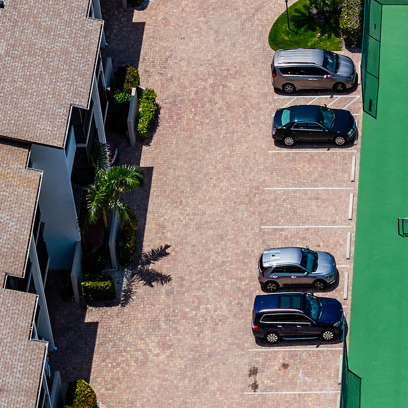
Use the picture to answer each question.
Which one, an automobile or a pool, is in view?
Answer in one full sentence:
The image shows an automobile.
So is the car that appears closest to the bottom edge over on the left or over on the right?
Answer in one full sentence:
The car that appears closest to the bottom edge is on the right side of the image.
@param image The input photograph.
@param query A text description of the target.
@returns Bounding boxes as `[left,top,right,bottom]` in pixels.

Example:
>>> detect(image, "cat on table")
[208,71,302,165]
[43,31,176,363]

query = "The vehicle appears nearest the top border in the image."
[272,45,358,94]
